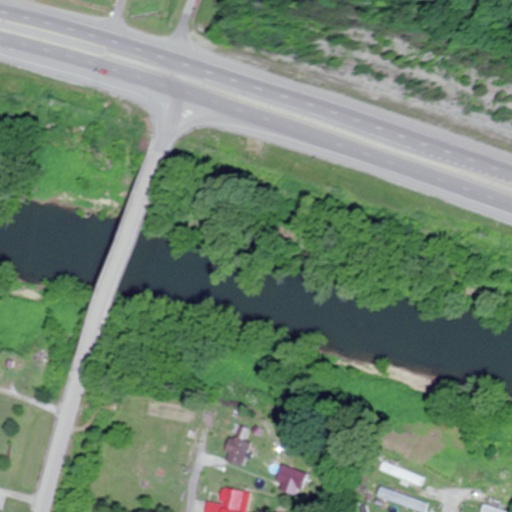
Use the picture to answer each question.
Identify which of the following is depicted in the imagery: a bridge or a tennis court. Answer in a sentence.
Of the two, only a bridge appears.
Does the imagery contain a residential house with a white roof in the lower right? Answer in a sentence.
Yes, there is a residential house with a white roof in the lower right.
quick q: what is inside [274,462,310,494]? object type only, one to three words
house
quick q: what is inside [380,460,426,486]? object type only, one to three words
house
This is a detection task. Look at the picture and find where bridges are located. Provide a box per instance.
[78,152,164,347]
